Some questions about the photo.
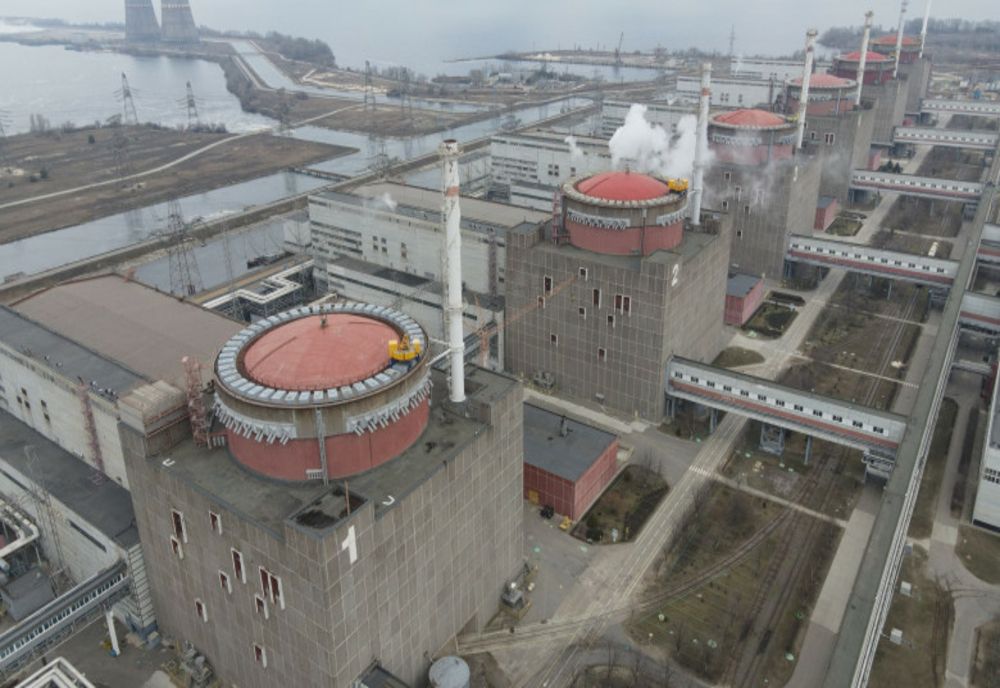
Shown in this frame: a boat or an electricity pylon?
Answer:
electricity pylon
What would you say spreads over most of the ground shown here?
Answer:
buildings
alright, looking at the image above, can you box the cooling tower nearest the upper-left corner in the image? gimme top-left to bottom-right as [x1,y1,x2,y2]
[120,0,164,42]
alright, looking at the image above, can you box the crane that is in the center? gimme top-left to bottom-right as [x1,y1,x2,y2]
[462,280,587,371]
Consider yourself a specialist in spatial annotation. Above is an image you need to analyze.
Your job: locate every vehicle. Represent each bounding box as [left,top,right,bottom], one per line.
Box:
[540,508,556,518]
[561,514,572,527]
